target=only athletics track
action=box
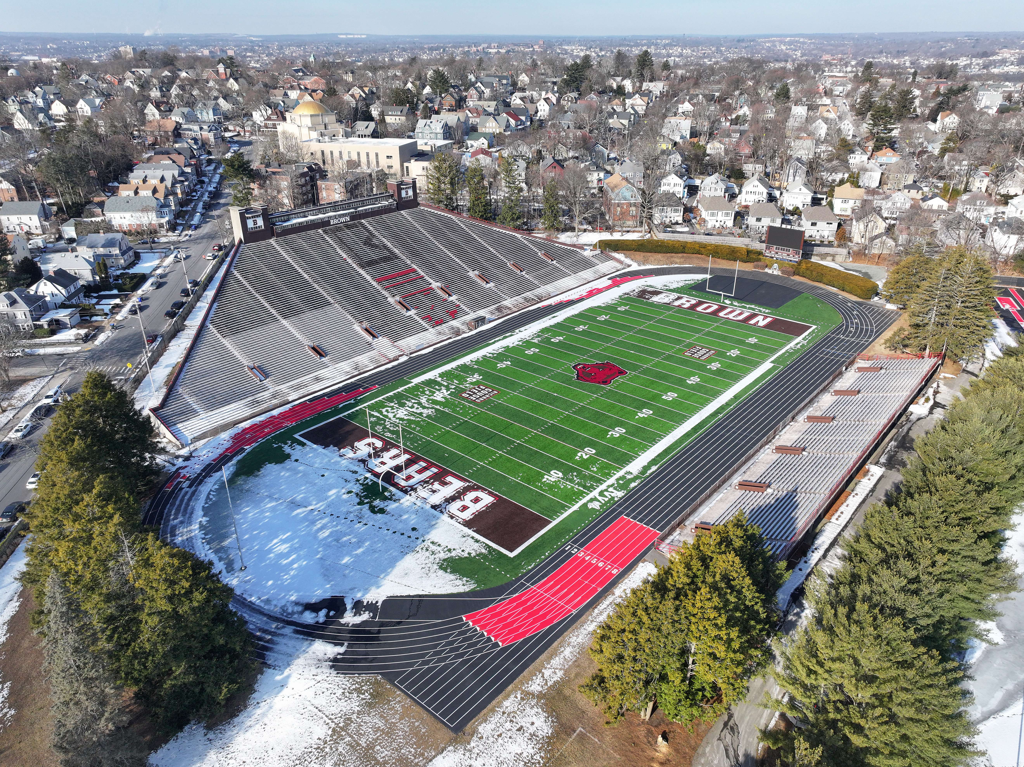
[150,266,901,734]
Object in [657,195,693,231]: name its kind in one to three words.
house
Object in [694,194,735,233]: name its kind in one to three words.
house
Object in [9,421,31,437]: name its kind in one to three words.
car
